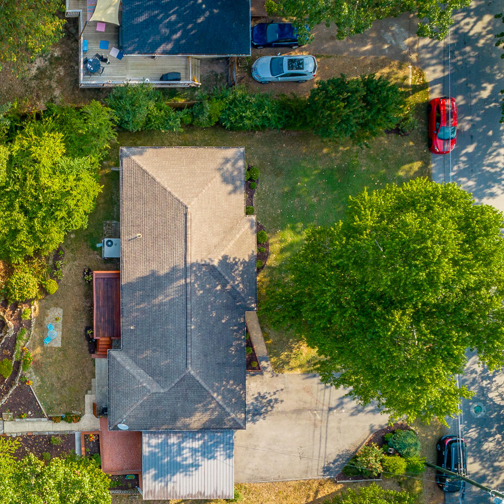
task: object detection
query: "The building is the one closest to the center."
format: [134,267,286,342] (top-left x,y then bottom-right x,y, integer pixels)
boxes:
[104,145,258,432]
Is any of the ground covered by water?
No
